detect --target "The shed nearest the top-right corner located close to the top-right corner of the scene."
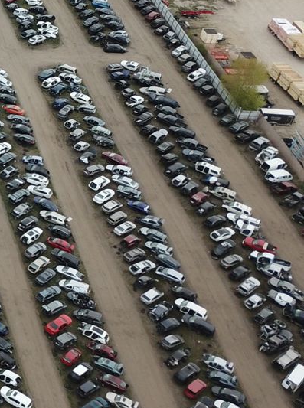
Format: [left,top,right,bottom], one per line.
[236,47,265,67]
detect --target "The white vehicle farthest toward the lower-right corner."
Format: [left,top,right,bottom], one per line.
[276,364,304,392]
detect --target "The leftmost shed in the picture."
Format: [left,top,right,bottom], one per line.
[197,26,226,45]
